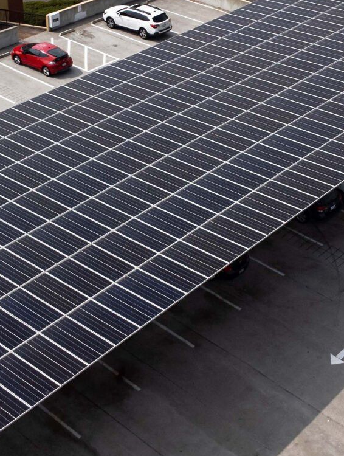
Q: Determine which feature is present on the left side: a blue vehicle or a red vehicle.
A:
red vehicle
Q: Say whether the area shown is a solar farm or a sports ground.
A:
solar farm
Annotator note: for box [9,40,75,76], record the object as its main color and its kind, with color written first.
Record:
red car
